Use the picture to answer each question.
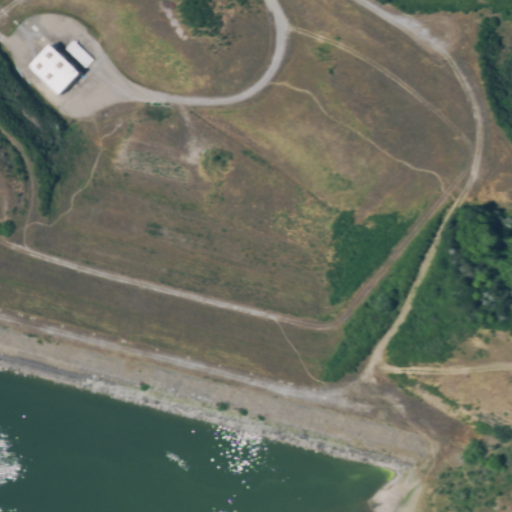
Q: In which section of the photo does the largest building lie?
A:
top left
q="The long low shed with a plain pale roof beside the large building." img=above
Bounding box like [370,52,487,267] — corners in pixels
[66,40,94,68]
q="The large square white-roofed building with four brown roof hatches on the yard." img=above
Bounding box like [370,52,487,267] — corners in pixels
[28,44,80,95]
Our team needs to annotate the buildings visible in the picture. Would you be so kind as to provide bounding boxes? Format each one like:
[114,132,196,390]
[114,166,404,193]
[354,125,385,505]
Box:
[28,44,80,95]
[66,40,94,68]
